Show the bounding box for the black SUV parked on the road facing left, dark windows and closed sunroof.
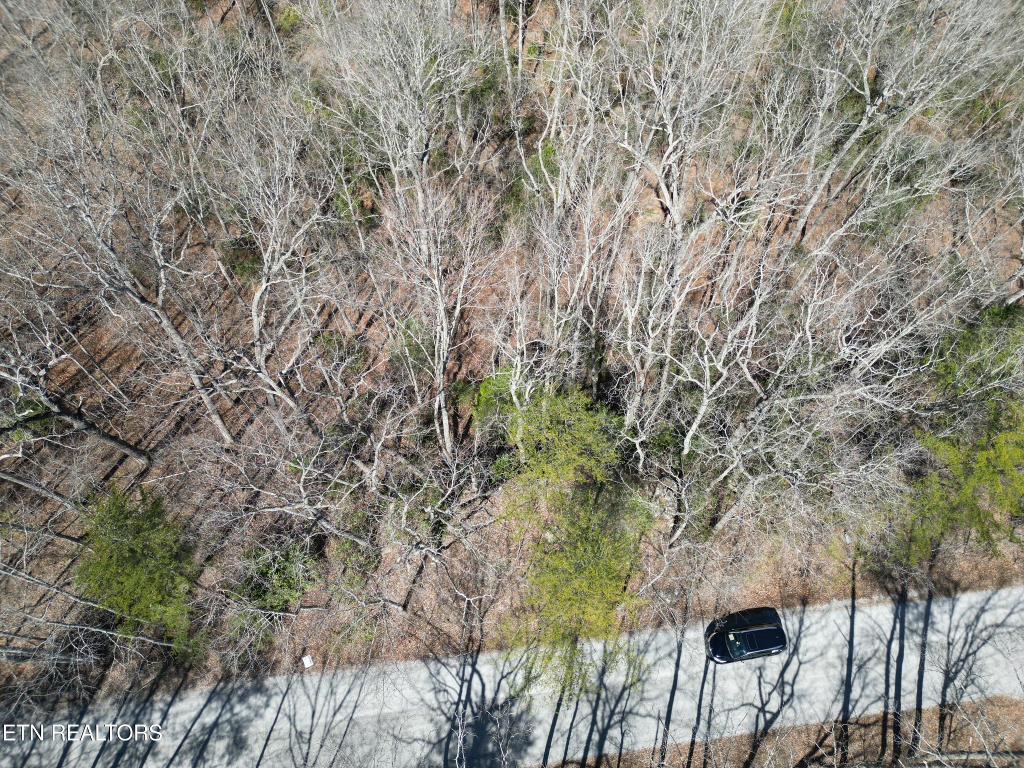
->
[706,619,790,662]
